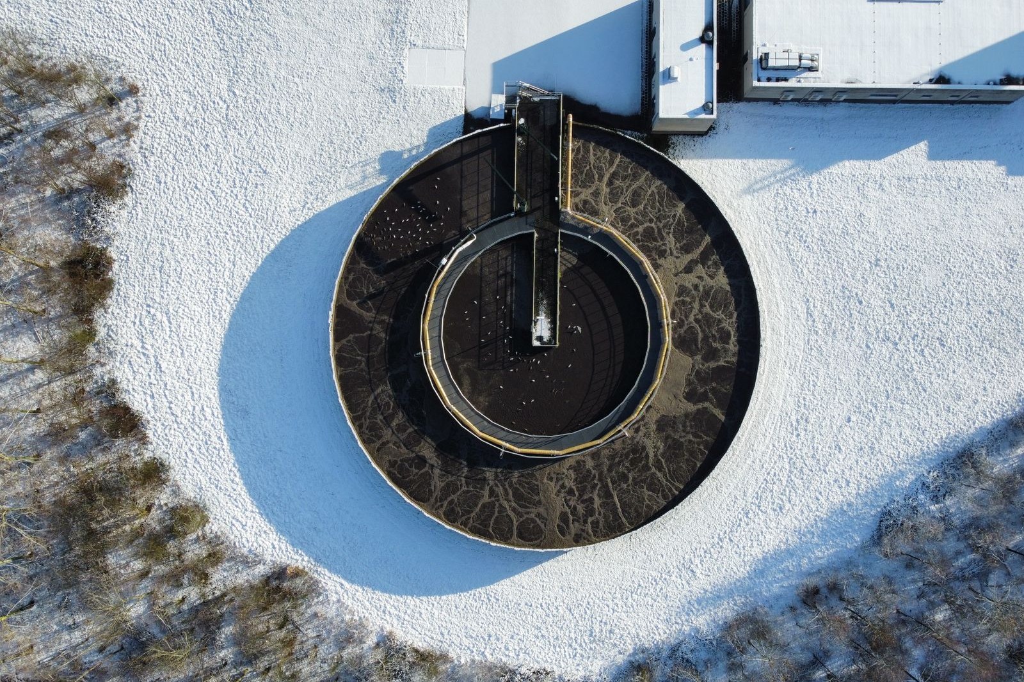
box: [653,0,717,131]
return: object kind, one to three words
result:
building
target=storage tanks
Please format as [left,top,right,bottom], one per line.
[330,121,761,551]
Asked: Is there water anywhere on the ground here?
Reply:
Yes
